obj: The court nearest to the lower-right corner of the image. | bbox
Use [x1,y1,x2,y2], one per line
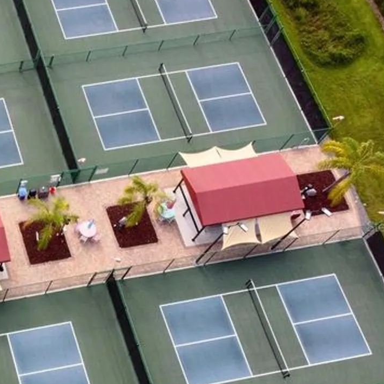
[115,236,384,384]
